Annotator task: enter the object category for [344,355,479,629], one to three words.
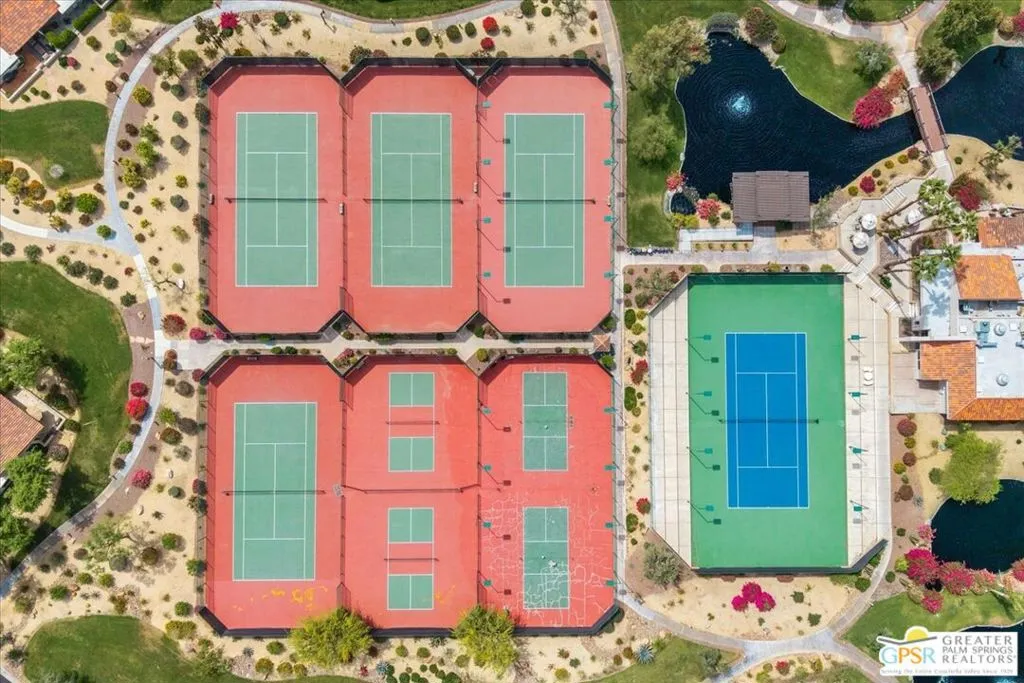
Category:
sports court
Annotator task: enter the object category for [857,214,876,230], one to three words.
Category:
umbrella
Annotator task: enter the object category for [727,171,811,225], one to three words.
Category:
building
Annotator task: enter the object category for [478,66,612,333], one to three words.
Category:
tennis court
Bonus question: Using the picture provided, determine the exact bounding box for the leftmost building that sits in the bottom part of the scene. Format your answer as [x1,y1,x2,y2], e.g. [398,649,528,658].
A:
[0,393,44,493]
